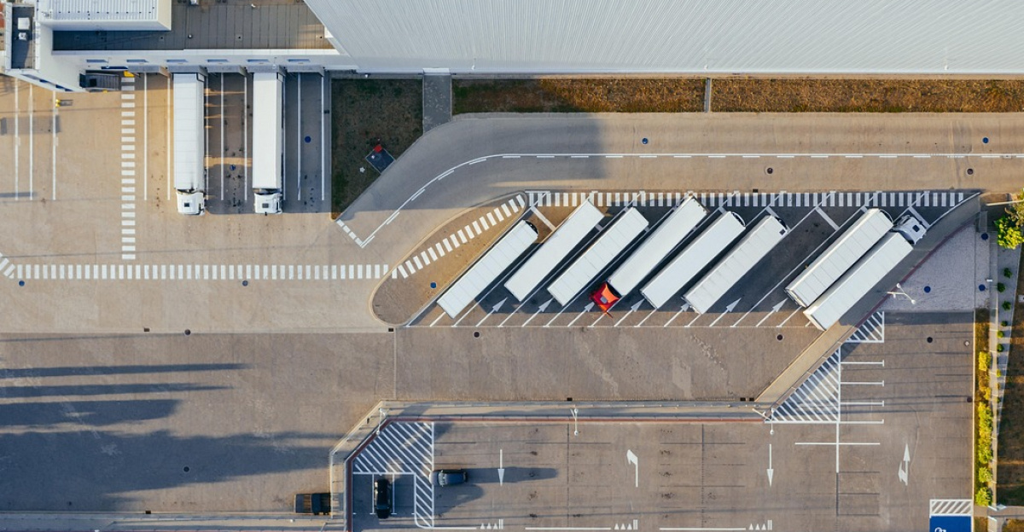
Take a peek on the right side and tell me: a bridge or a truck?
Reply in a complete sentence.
There is a truck on the right side.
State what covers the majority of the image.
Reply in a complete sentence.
The largest share of the image is taken up by paved ground.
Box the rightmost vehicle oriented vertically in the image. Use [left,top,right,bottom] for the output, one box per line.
[373,479,392,520]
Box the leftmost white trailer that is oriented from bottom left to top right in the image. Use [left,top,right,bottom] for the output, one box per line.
[438,219,540,318]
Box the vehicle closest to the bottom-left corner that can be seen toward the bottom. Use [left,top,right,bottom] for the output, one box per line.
[293,494,329,518]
